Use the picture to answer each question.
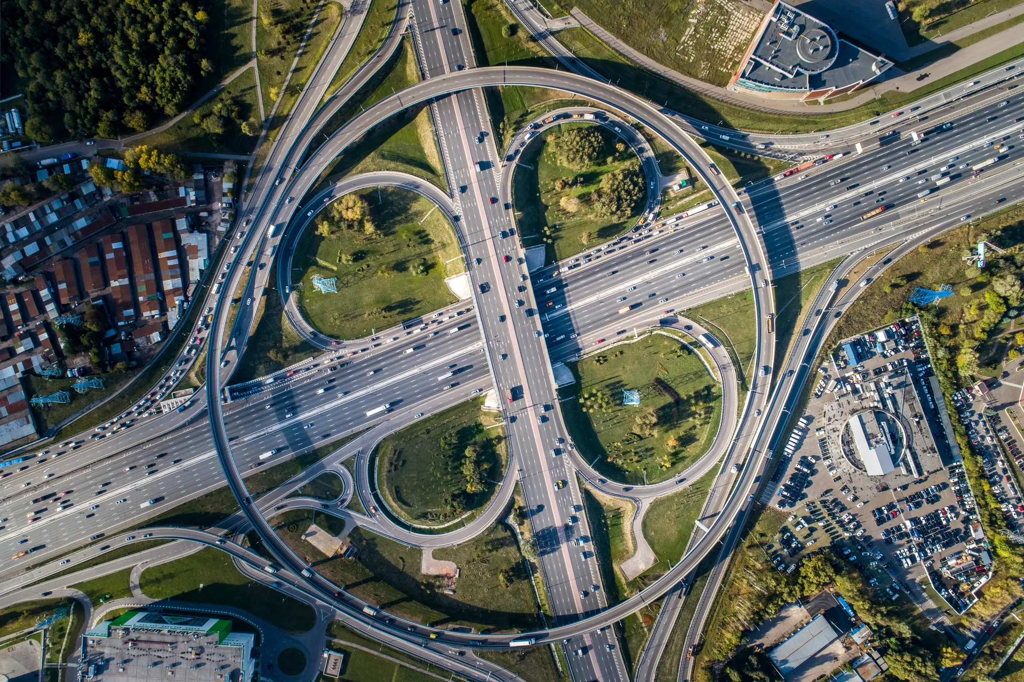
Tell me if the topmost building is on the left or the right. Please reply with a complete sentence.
The topmost building sits on the right side.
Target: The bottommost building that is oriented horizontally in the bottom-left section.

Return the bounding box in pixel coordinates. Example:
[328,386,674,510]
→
[77,605,254,682]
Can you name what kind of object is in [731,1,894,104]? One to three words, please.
building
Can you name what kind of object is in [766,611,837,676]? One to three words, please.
building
